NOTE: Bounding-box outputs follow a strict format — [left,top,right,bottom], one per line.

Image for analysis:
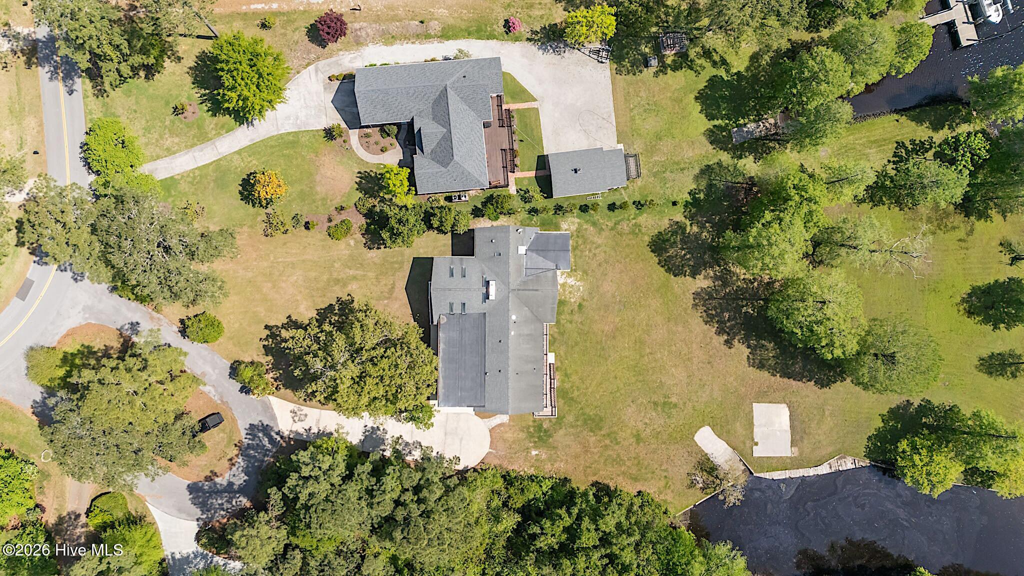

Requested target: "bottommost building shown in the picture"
[429,227,571,418]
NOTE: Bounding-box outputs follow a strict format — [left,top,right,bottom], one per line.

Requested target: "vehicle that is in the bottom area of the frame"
[193,412,224,437]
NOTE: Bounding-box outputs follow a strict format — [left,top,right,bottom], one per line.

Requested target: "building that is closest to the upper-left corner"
[355,56,515,195]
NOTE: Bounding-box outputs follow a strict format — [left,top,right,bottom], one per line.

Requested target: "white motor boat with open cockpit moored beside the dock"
[976,0,1002,27]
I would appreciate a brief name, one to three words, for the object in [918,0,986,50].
pier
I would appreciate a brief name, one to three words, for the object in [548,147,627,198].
building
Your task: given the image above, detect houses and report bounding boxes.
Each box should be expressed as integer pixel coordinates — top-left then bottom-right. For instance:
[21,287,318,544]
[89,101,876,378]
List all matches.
[355,56,515,195]
[429,227,571,418]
